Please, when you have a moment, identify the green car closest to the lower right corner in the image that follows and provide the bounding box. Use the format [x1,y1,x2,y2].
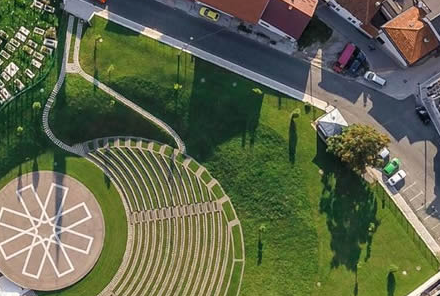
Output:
[379,156,401,176]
